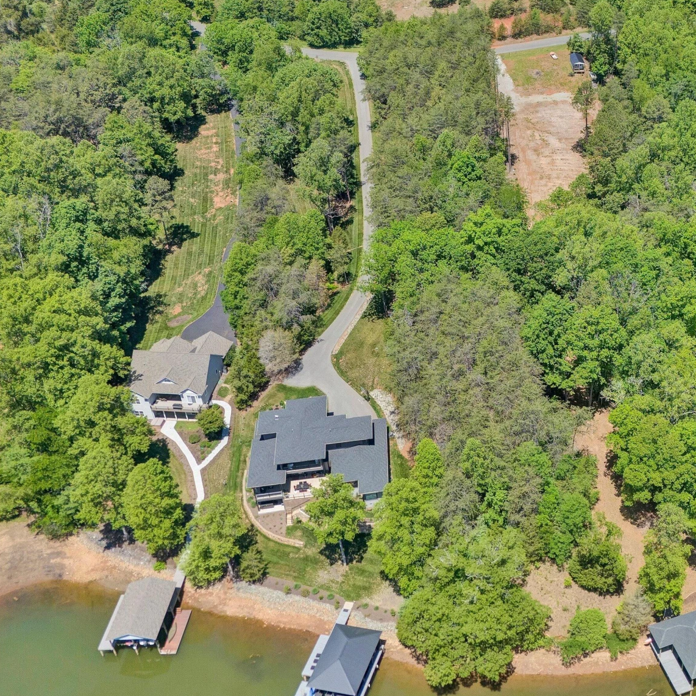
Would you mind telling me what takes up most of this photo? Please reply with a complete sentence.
Most of the picture is covered by trees.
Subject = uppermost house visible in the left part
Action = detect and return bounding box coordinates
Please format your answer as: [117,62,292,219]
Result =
[120,331,233,421]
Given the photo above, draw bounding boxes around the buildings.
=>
[565,51,584,72]
[645,611,696,696]
[247,394,390,522]
[295,602,385,696]
[99,573,190,657]
[120,331,233,421]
